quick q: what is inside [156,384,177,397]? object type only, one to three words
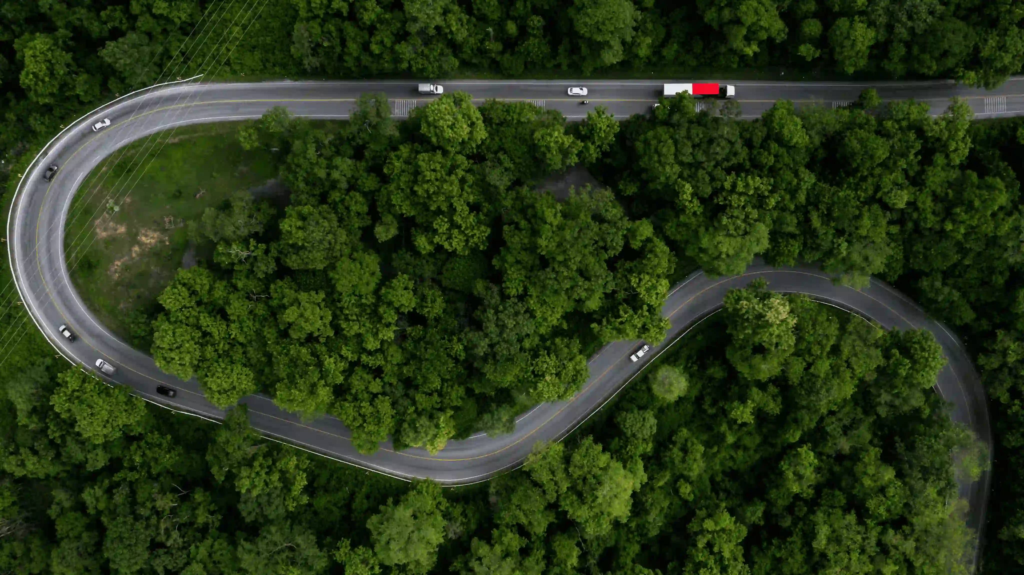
vehicle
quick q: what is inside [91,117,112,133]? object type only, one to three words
car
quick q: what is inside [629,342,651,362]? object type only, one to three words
vehicle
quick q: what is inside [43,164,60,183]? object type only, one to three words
car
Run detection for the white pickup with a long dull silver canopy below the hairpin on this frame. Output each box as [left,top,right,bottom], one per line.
[95,359,119,377]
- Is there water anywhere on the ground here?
No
